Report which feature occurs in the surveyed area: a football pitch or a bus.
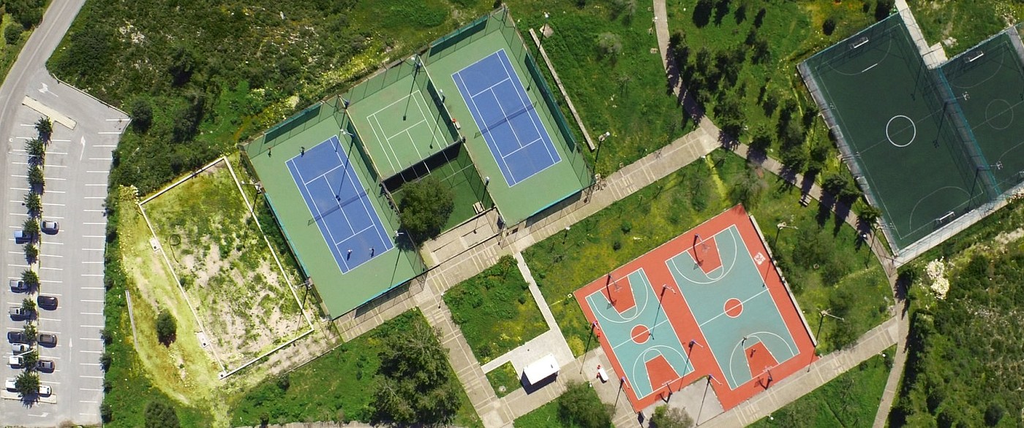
football pitch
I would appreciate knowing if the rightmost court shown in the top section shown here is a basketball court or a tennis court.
tennis court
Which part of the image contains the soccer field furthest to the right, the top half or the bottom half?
top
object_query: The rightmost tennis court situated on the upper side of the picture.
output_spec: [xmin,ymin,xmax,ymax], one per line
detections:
[418,9,594,225]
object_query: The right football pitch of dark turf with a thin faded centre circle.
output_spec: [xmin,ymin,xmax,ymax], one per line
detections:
[930,30,1024,195]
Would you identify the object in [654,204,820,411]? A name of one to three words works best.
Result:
basketball court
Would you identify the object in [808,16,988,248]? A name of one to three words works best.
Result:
soccer field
